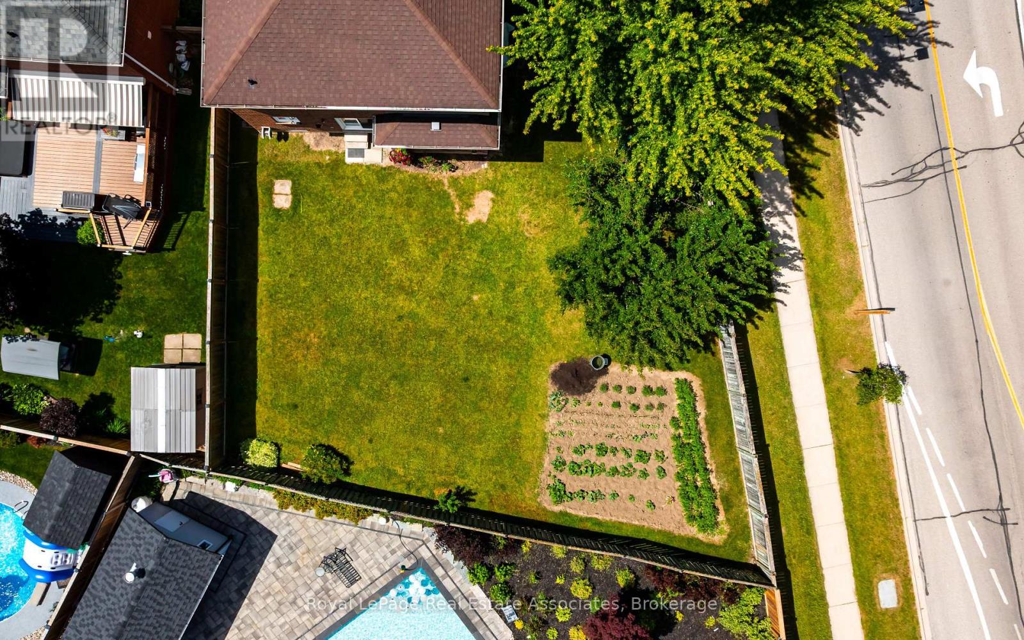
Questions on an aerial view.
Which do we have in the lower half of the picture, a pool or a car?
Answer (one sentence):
Looking in the lower half of the picture, you will find a pool.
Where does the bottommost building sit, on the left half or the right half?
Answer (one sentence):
The bottommost building is on the left side of the image.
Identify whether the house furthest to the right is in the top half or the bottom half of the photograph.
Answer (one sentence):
It is in the top half that the house furthest to the right appears.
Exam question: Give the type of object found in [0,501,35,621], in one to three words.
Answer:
swimming pool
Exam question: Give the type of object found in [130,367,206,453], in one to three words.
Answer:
shed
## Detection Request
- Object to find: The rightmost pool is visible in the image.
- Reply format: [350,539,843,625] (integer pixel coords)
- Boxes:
[312,557,484,640]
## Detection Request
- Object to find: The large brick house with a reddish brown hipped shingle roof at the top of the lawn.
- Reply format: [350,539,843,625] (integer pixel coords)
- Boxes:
[200,0,506,157]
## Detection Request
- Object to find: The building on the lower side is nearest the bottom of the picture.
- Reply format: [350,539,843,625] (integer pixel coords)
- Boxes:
[60,500,243,640]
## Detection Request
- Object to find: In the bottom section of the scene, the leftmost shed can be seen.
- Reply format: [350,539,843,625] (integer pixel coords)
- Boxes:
[23,447,126,550]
